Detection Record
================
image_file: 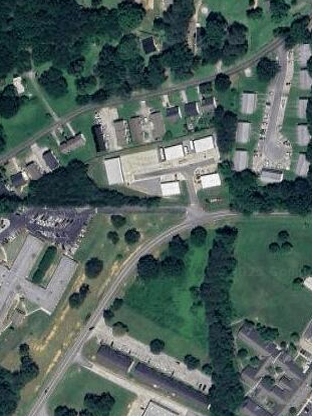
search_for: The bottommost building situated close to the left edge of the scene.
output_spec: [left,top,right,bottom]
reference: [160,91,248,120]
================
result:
[0,236,79,330]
